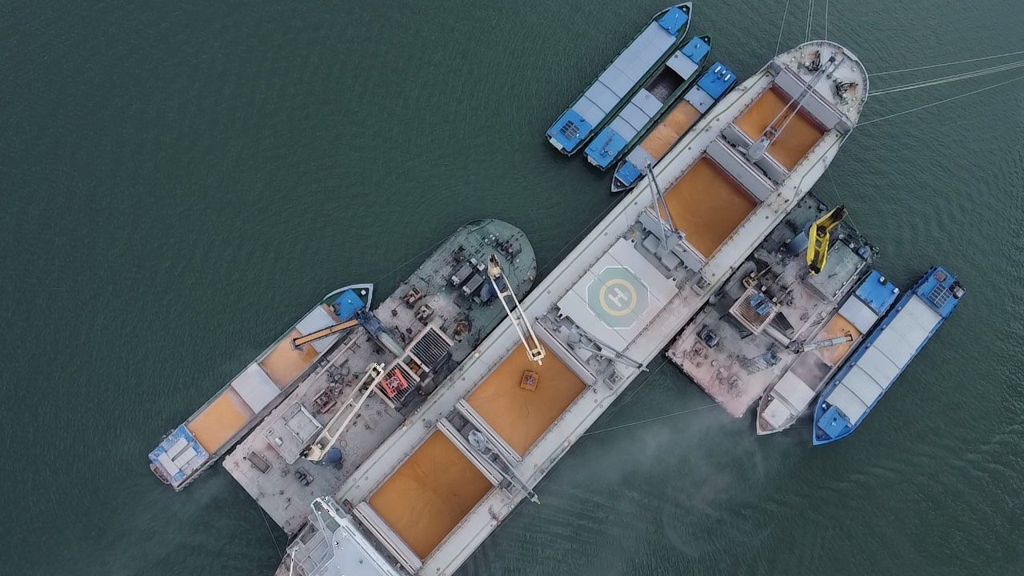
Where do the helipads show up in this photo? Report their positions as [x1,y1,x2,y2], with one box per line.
[581,258,658,334]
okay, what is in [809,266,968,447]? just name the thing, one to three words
boat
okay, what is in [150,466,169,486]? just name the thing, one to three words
boat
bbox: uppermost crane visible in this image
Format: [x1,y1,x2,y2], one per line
[742,58,843,167]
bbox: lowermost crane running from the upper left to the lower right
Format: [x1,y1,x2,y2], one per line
[467,431,539,503]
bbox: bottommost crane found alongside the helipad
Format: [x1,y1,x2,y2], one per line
[563,327,649,373]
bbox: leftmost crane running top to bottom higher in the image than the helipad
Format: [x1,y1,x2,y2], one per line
[645,161,685,258]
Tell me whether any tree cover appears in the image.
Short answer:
No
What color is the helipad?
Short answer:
white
